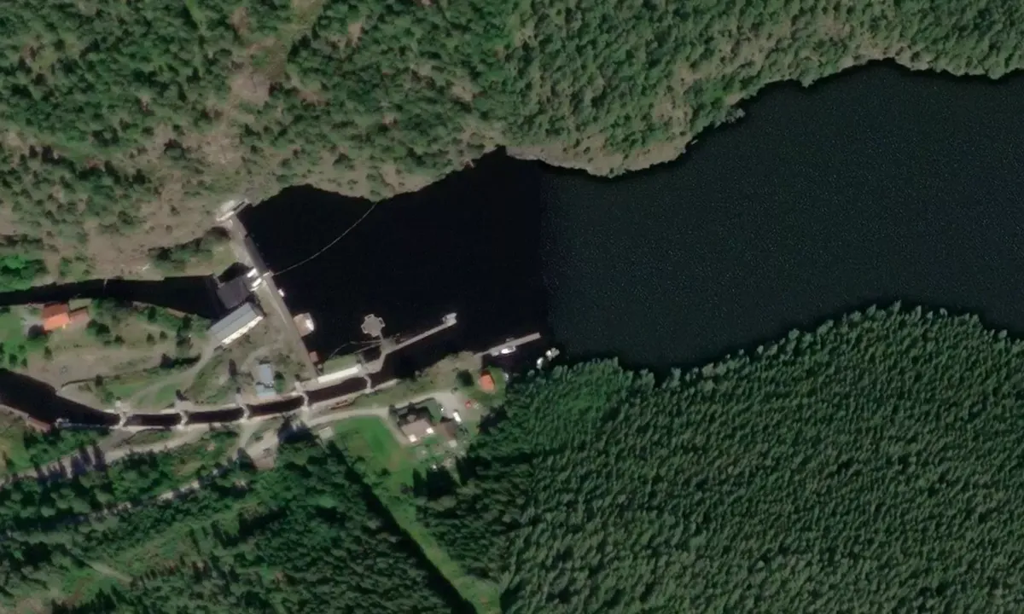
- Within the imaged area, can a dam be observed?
Yes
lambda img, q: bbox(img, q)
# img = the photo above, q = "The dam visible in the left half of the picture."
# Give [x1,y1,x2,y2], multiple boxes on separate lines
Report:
[216,200,319,378]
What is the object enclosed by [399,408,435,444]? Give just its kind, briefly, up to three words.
house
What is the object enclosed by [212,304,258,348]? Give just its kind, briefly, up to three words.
building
